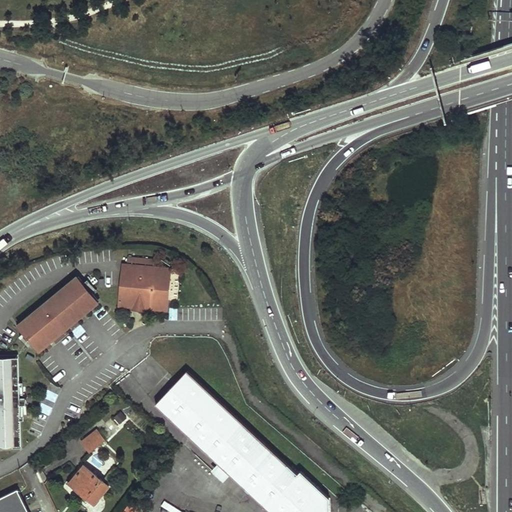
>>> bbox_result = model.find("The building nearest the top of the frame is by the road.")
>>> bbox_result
[117,254,170,312]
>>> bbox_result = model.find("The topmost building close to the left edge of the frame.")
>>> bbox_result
[16,276,98,354]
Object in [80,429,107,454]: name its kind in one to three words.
house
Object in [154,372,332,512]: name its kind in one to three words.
warehouse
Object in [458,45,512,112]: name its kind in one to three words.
bridge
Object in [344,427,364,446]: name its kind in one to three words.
vehicle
